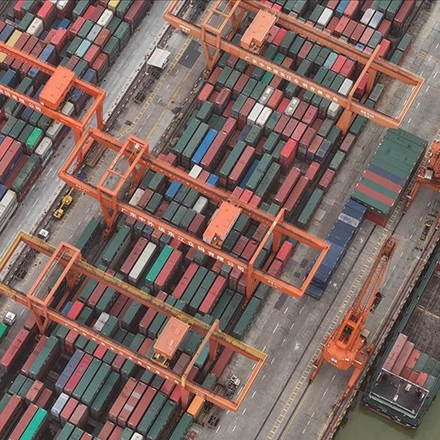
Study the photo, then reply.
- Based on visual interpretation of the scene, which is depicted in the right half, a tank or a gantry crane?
gantry crane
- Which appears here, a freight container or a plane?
freight container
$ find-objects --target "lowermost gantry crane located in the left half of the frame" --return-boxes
[0,230,269,416]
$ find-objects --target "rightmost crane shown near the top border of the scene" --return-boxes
[162,0,425,140]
